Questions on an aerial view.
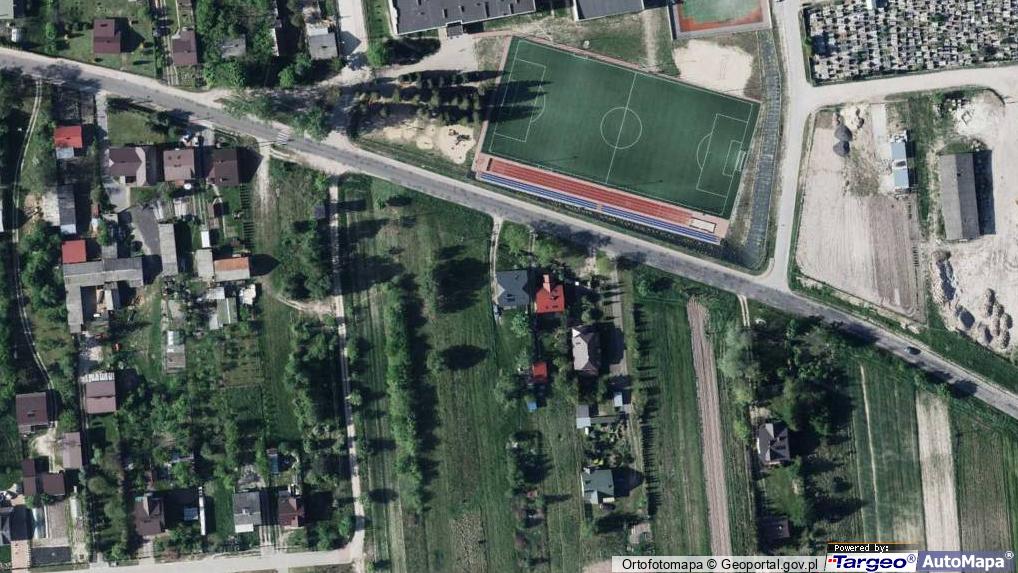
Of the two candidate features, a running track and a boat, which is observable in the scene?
running track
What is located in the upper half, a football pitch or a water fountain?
football pitch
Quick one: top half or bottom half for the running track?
top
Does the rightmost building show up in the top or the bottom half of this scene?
top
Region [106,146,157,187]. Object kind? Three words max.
house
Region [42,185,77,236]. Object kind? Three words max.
barn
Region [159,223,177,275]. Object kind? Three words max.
shed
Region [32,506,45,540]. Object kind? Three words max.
greenhouse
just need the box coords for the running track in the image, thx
[488,158,691,223]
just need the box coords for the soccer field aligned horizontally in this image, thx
[481,36,760,219]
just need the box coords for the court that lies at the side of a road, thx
[673,0,771,38]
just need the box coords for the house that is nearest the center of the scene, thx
[495,271,532,309]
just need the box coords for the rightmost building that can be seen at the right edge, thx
[939,152,979,243]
